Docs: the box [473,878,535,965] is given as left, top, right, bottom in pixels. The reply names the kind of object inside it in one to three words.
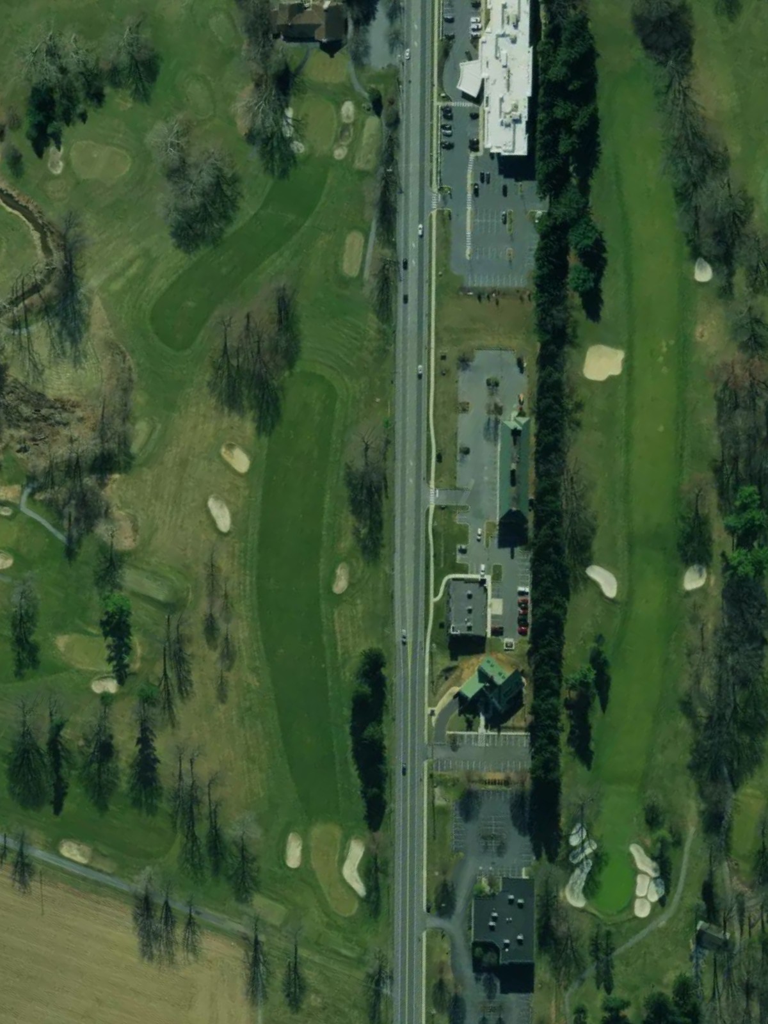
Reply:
building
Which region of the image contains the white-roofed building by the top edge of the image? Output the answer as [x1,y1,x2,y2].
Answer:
[457,0,534,155]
